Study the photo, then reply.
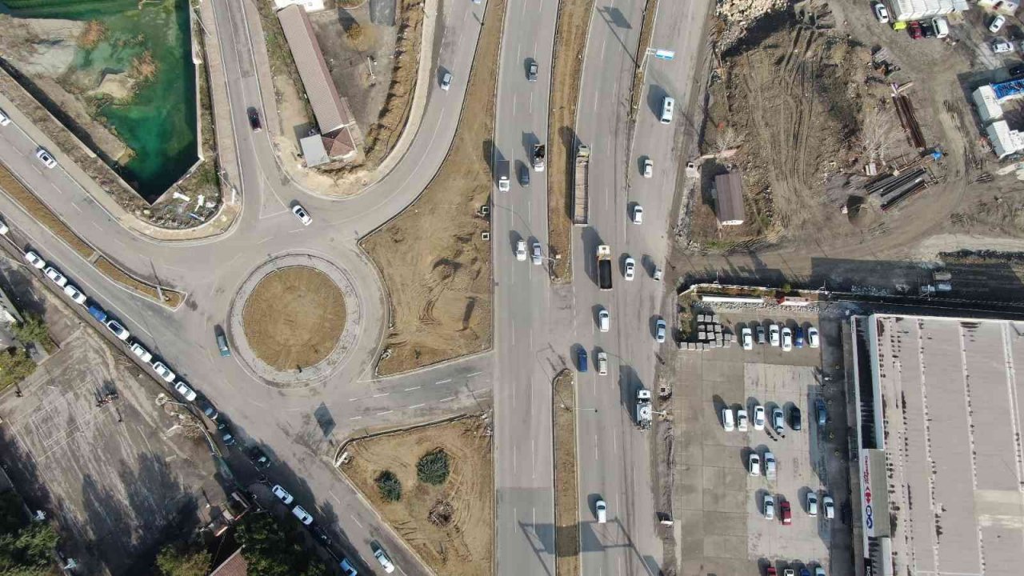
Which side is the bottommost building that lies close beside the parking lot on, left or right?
right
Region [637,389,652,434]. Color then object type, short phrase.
white vehicle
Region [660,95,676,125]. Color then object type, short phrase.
white vehicle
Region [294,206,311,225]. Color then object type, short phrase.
white car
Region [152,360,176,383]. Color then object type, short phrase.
white car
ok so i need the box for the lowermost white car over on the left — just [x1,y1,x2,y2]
[373,548,395,573]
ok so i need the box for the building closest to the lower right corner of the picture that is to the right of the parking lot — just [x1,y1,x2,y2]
[826,314,1024,576]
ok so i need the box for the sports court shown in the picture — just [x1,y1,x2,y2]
[8,376,122,462]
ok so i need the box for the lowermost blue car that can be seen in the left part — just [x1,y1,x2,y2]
[338,556,359,576]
